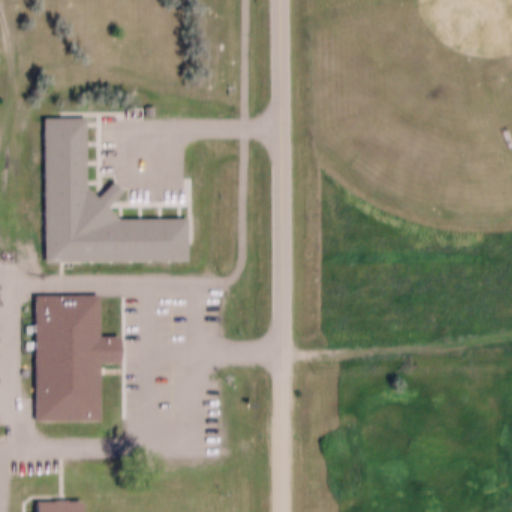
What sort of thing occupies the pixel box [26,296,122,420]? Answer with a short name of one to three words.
building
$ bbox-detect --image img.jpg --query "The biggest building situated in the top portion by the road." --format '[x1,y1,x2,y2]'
[46,118,188,262]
